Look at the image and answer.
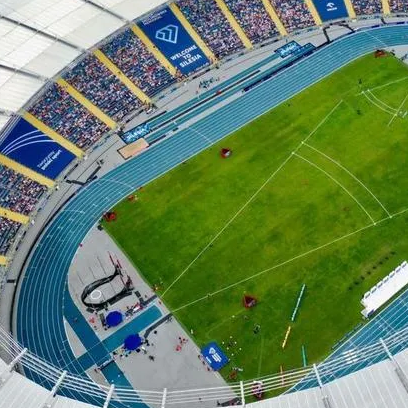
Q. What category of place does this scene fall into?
sports ground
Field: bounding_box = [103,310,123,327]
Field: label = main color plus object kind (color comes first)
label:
blue umbrella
